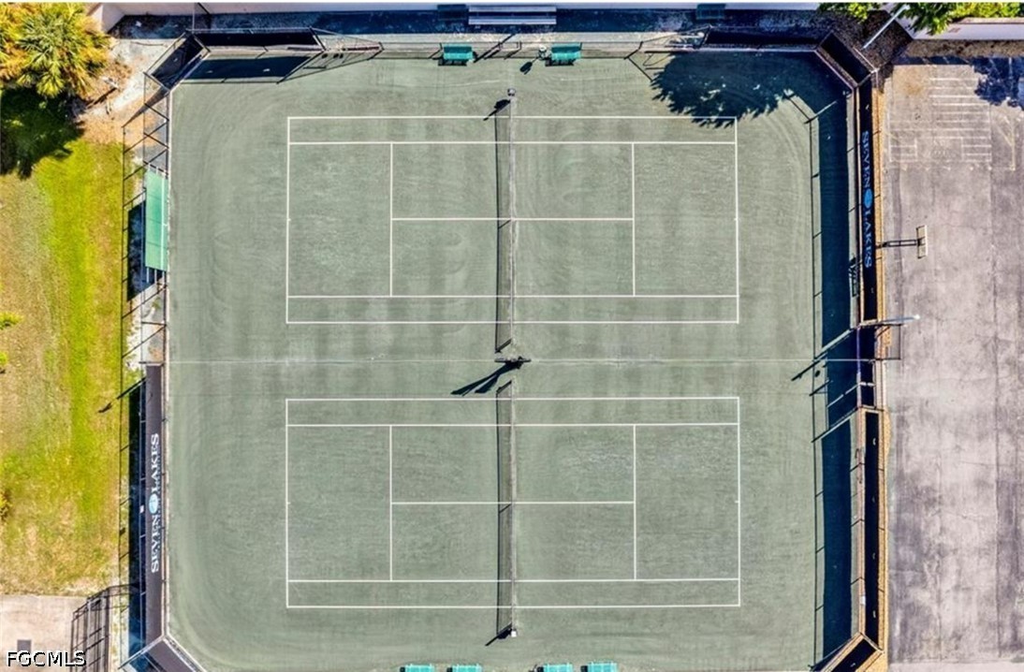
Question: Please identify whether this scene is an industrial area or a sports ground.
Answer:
sports ground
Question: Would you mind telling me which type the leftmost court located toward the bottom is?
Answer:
tennis court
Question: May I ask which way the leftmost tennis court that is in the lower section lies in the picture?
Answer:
from side to side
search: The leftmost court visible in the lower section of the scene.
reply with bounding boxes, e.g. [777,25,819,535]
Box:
[286,397,740,608]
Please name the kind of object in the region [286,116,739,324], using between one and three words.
tennis court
